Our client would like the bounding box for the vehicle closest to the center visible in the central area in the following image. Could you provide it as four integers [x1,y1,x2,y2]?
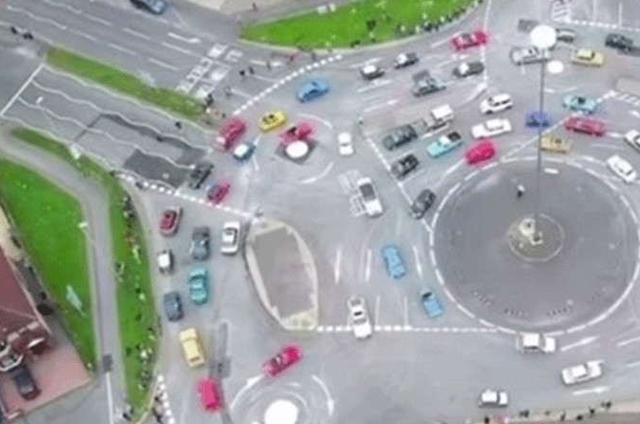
[356,179,384,215]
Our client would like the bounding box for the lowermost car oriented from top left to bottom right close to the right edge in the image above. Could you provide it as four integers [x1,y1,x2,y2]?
[605,153,639,185]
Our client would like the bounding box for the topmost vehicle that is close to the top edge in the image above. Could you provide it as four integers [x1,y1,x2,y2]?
[130,0,166,15]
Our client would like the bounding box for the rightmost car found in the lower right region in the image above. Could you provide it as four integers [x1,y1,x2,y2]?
[559,361,605,386]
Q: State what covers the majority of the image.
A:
paved ground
